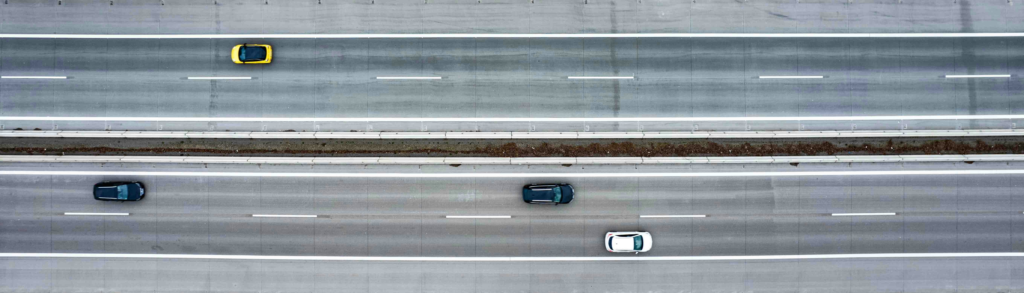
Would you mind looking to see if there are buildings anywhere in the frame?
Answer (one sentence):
No, there is no building in the image.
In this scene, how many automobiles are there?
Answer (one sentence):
Looking from above, you can make out 4 automobiles.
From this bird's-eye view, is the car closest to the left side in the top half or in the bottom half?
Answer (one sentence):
The bottom half of the photo is where the car closest to the left side is.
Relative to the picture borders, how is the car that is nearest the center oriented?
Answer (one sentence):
The car that is nearest the center runs from side to side in the image.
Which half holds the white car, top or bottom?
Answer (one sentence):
You can find the white car in the bottom half.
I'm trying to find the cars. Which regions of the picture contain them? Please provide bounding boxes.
[92,179,146,204]
[231,41,272,65]
[523,182,574,207]
[605,231,652,255]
